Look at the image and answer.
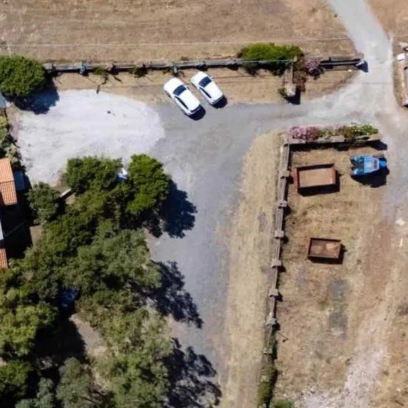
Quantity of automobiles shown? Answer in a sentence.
In total, there are 2 automobiles in the scene.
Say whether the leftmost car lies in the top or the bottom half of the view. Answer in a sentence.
The leftmost car sits in the top half of the picture.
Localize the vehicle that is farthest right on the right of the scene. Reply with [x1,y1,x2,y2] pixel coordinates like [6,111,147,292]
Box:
[344,156,386,178]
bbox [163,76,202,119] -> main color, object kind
white car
